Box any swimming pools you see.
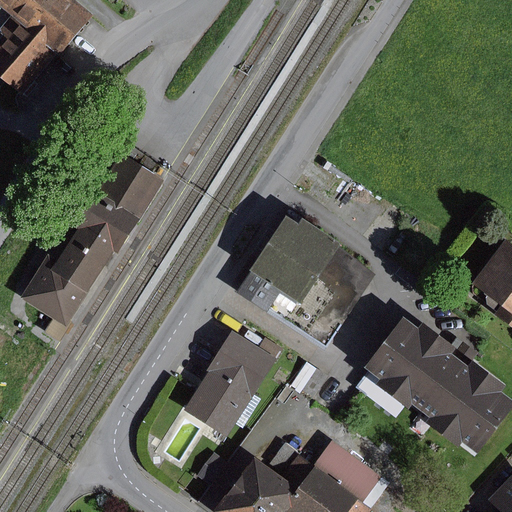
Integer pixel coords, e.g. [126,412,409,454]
[155,410,223,469]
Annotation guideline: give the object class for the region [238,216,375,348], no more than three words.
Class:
building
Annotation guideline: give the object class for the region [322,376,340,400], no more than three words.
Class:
car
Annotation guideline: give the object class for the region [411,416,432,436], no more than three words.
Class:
umbrella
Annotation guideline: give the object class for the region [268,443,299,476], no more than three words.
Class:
shed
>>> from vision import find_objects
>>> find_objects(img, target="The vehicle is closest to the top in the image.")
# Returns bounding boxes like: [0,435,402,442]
[73,34,97,55]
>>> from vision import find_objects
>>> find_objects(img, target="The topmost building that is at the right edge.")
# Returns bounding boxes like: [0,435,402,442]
[474,240,512,326]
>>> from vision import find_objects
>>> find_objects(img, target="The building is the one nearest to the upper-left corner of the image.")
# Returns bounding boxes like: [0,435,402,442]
[0,0,92,95]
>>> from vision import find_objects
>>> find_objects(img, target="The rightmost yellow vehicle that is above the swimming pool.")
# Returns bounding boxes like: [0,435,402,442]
[213,308,244,334]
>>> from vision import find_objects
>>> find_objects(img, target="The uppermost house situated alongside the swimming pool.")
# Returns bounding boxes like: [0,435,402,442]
[184,331,278,437]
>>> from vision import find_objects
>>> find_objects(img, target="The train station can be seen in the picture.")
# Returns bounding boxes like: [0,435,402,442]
[0,0,333,488]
